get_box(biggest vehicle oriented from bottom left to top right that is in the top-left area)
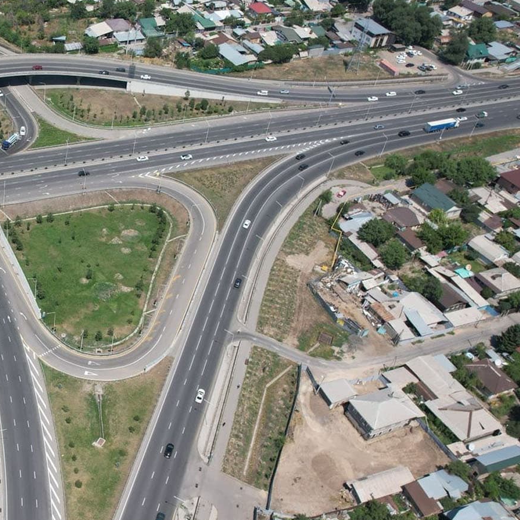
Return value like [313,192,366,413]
[1,132,19,149]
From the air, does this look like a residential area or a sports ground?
residential area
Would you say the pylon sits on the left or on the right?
right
